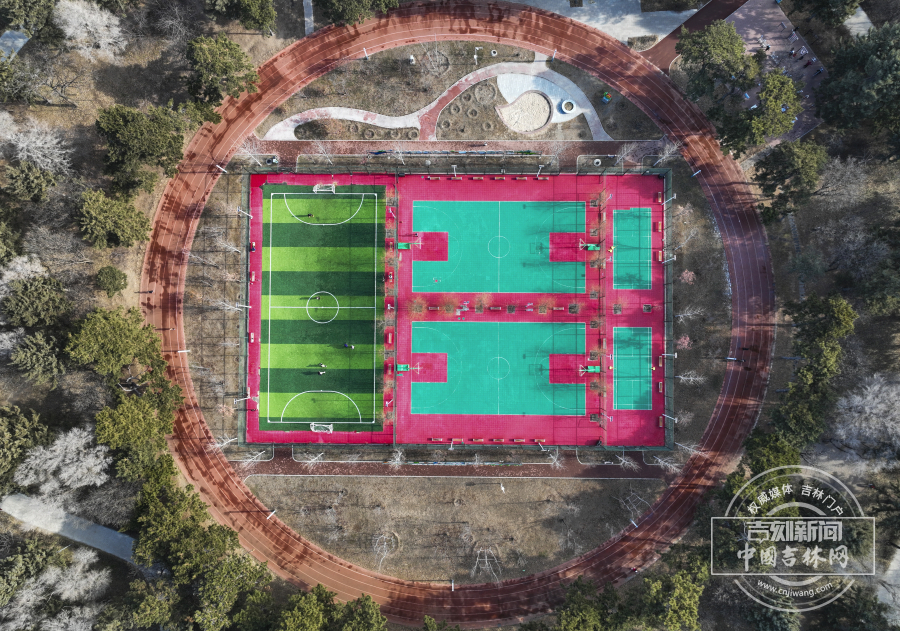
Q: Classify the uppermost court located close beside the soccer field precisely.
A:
basketball court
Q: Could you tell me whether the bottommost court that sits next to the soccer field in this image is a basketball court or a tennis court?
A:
basketball court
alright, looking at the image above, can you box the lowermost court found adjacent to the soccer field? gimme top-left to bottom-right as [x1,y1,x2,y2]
[410,322,586,416]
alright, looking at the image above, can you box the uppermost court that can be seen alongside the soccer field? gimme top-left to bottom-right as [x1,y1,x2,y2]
[412,200,587,294]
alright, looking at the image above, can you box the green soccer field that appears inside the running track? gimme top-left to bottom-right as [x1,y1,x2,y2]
[259,185,386,431]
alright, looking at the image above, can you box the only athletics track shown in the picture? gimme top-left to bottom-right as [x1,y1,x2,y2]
[142,0,773,627]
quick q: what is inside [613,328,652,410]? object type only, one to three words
sports court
